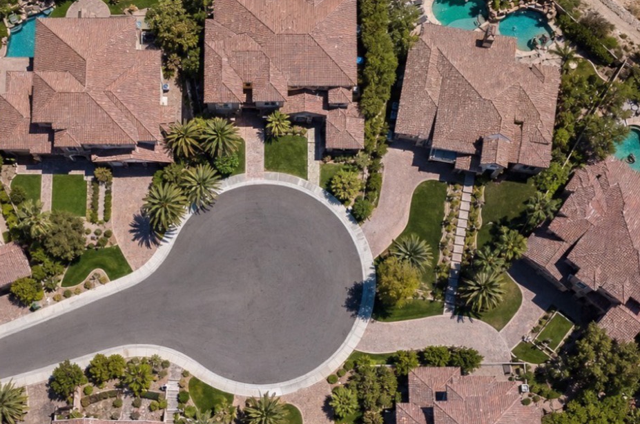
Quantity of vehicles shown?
0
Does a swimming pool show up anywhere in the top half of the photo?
Yes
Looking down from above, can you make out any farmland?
No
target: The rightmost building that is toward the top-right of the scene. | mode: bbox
[394,17,561,179]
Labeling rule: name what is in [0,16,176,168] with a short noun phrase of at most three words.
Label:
house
